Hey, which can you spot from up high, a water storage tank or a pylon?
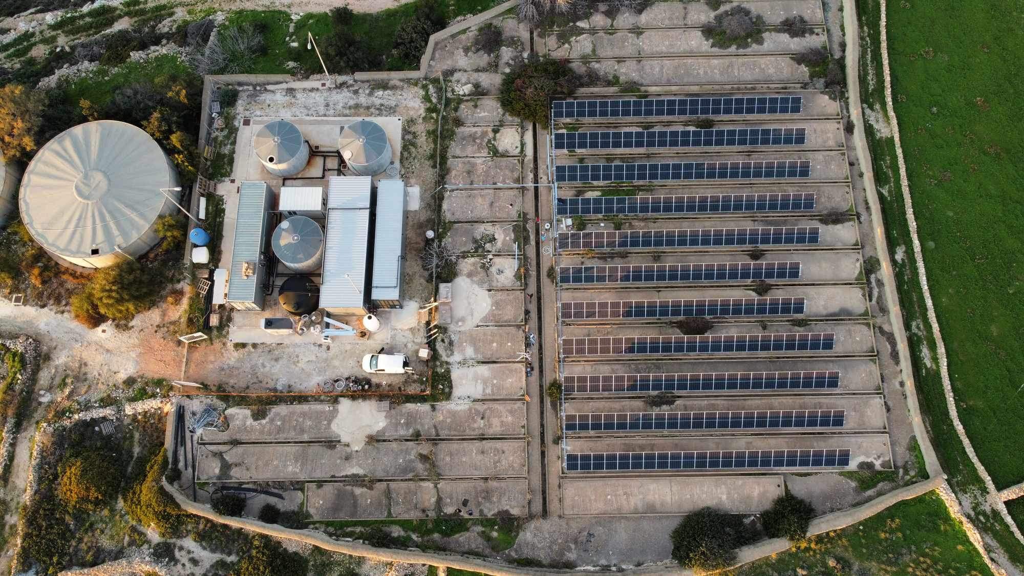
water storage tank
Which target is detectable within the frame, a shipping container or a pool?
shipping container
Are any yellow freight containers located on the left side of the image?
No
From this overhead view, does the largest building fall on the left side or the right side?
left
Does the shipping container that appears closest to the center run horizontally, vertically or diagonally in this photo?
vertically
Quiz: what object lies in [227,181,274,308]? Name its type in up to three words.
shipping container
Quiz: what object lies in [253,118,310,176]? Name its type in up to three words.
water tank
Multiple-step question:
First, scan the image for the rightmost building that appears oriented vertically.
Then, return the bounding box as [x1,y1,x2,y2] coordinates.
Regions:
[319,176,377,315]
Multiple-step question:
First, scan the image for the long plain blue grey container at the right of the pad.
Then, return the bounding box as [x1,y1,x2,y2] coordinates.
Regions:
[371,180,407,306]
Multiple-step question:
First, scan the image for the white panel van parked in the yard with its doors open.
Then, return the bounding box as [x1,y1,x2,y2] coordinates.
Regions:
[362,346,415,376]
